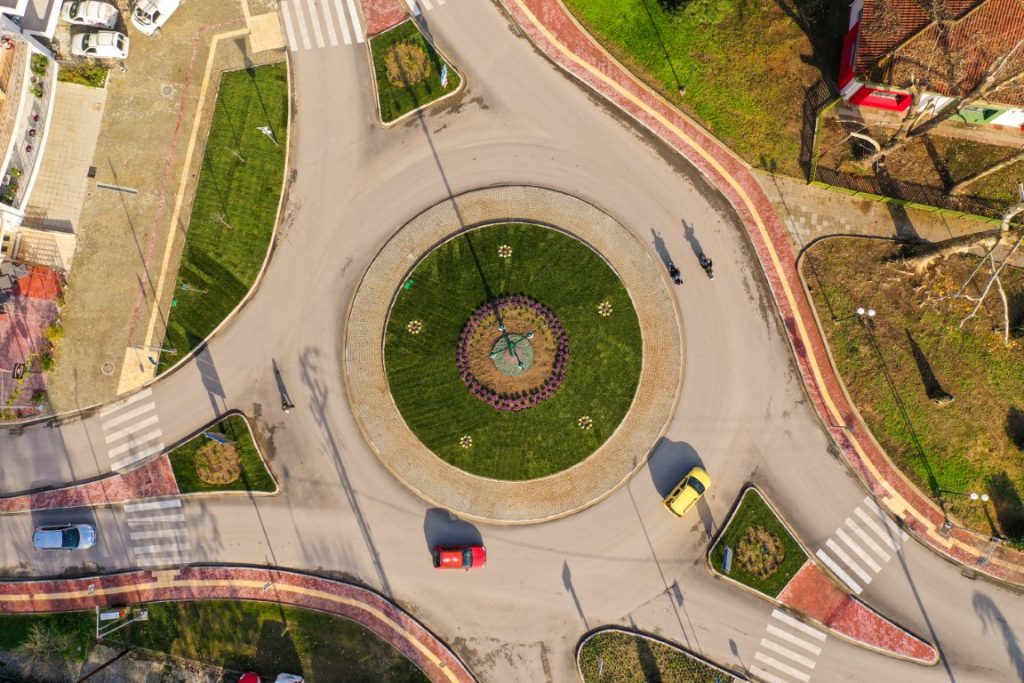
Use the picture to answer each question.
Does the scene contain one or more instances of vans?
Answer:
Yes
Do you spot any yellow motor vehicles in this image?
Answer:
Yes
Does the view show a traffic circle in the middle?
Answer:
Yes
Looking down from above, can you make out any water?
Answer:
No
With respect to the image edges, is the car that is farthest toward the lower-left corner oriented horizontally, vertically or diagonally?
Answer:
horizontally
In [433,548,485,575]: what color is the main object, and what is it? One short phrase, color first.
red car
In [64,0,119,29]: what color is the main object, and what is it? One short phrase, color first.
white van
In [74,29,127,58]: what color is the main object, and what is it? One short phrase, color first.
white van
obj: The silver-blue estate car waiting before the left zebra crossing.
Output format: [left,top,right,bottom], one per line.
[33,525,95,553]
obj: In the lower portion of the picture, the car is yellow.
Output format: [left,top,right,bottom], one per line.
[662,468,710,522]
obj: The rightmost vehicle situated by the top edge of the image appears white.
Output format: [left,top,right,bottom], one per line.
[136,0,189,36]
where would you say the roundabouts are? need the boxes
[344,186,683,524]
